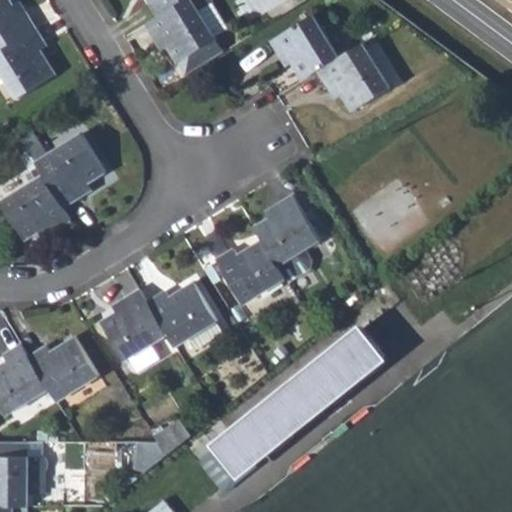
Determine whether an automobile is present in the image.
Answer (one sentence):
Yes, there is an automobile in the image.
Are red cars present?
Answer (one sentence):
Yes, the photo shows a red car.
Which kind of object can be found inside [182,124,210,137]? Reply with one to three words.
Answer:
vehicle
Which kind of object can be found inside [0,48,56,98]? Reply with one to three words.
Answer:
house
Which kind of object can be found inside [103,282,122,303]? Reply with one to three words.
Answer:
car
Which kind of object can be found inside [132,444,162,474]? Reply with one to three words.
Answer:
shed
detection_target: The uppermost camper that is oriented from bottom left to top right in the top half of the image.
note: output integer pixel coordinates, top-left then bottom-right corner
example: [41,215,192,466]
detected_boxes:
[238,48,270,72]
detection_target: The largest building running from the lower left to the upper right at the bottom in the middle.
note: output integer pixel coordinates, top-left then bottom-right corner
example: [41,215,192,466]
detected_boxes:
[206,326,385,484]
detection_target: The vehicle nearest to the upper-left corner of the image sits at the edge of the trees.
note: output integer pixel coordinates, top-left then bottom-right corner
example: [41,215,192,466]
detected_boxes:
[84,46,100,68]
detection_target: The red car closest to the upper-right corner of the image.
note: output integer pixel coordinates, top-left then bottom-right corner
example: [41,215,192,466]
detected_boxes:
[298,79,318,95]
